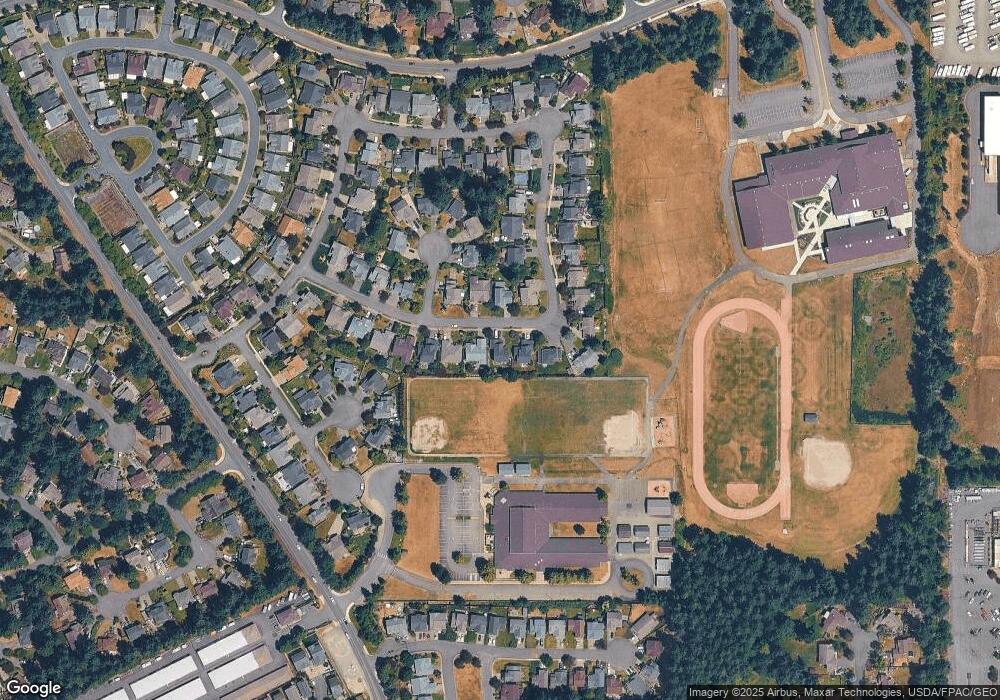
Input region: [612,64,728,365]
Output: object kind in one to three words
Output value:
sports field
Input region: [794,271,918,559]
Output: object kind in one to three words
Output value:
baseball field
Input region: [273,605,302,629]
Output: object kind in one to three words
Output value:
building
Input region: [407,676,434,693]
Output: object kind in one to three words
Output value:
house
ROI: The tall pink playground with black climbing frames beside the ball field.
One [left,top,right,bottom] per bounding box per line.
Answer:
[653,417,676,447]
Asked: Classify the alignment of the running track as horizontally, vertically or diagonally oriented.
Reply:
vertically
